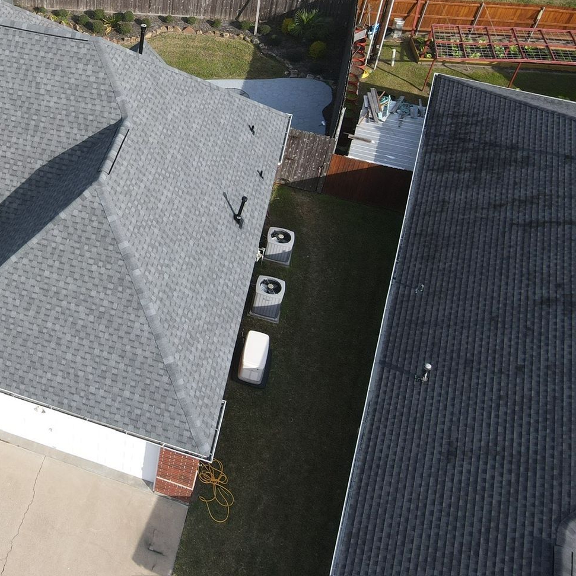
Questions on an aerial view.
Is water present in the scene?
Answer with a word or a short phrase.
No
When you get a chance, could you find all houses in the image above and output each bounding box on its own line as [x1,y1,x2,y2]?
[325,76,576,576]
[0,0,294,506]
